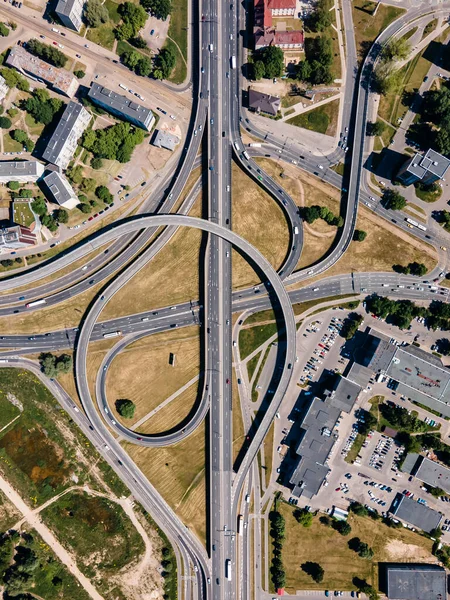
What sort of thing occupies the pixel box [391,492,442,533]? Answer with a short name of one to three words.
building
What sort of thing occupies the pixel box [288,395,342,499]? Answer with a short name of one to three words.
building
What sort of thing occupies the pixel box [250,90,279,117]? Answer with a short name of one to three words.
house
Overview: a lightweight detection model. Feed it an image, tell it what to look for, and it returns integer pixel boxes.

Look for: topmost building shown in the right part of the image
[254,0,304,51]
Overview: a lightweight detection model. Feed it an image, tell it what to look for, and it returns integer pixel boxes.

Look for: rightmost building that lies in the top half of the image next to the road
[418,148,450,183]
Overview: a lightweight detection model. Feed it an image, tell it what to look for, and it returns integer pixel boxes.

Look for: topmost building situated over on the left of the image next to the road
[56,0,87,32]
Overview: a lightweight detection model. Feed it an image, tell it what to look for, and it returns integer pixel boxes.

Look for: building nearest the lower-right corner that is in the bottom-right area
[386,565,446,600]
